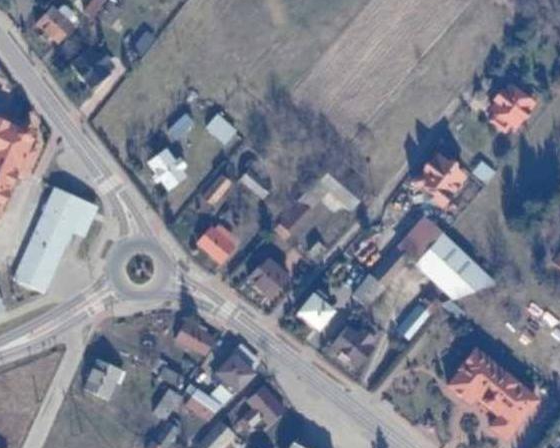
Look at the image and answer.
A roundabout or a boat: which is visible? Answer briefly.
roundabout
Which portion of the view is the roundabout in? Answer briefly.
left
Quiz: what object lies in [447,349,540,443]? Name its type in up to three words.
house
